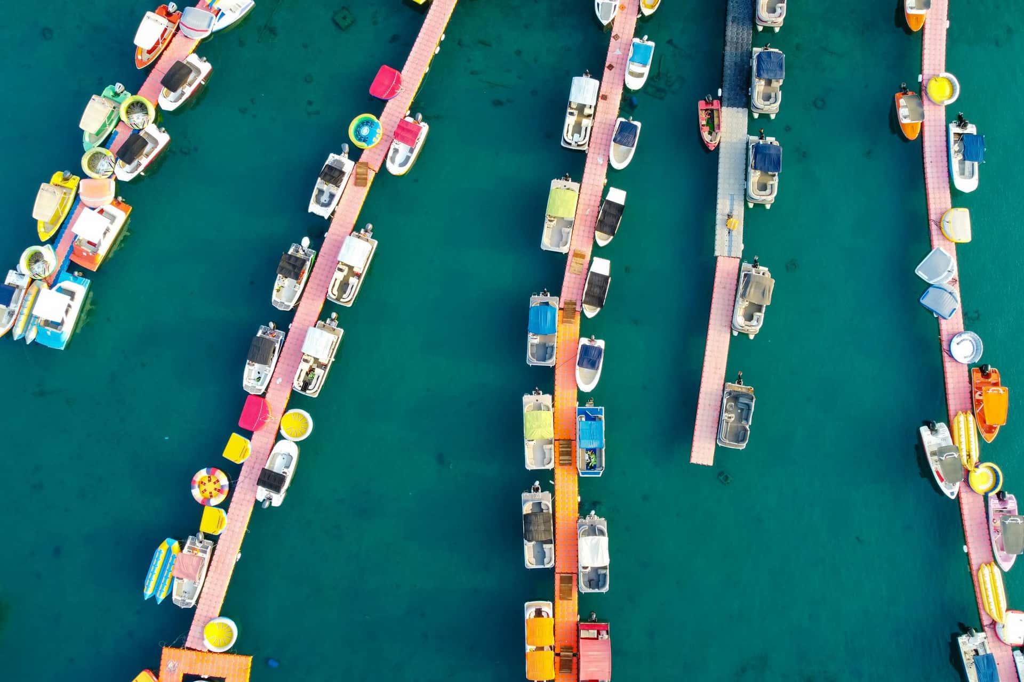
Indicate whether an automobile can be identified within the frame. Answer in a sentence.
No, the photo shows no automobile.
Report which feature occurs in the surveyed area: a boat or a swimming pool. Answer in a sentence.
It is a boat that can be seen here.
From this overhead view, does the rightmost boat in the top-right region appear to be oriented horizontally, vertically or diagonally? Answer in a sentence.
The rightmost boat in the top-right region has been laid out vertically relative to the frame.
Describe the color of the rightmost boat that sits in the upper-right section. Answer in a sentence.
The rightmost boat that sits in the upper-right section is white.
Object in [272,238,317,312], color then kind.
white boat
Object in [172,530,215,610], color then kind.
white boat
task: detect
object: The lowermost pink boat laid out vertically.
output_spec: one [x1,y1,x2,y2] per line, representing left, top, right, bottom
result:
[579,610,611,682]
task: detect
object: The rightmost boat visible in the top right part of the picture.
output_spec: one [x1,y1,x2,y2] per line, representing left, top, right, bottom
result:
[947,119,984,195]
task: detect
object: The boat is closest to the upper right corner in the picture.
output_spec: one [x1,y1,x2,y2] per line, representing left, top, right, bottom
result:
[897,0,929,36]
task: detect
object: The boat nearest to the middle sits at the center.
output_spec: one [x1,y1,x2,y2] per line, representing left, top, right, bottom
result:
[527,286,559,368]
